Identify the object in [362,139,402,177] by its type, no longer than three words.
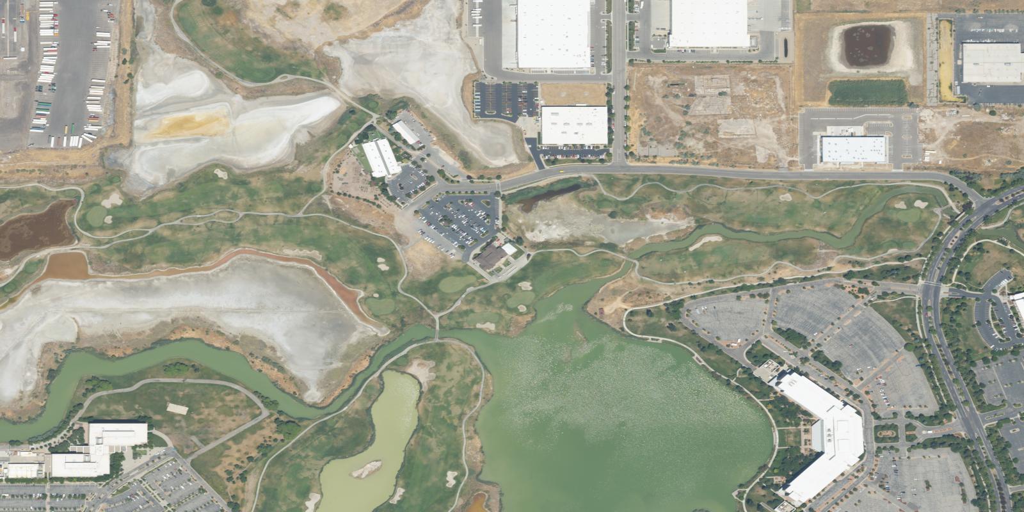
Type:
building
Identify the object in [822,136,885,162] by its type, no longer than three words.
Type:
building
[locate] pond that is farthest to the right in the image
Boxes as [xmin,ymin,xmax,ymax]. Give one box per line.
[844,25,890,66]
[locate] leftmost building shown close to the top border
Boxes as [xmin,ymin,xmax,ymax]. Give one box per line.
[518,0,590,68]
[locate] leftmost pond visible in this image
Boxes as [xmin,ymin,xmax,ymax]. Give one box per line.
[0,200,77,261]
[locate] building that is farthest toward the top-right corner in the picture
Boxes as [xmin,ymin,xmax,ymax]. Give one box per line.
[963,43,1024,82]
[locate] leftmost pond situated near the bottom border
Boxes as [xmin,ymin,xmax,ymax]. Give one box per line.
[319,369,420,512]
